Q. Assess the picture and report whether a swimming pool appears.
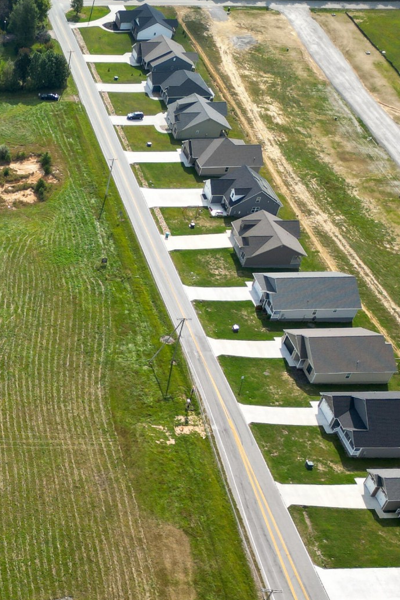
No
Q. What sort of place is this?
residential area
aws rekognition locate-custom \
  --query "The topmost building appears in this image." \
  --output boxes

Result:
[115,4,182,41]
